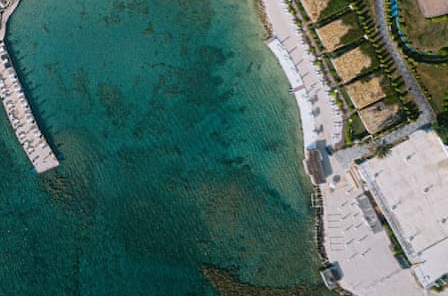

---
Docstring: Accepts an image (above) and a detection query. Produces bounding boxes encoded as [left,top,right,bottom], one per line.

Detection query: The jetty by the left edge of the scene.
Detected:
[0,39,60,173]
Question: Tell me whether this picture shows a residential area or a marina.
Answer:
residential area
